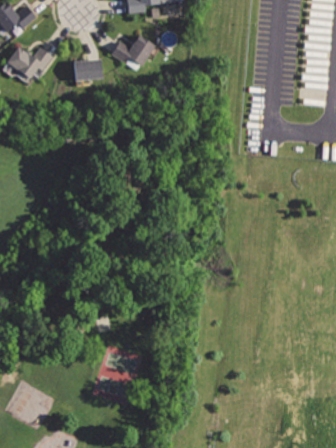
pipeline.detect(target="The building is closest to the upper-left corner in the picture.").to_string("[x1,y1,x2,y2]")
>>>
[0,0,38,35]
